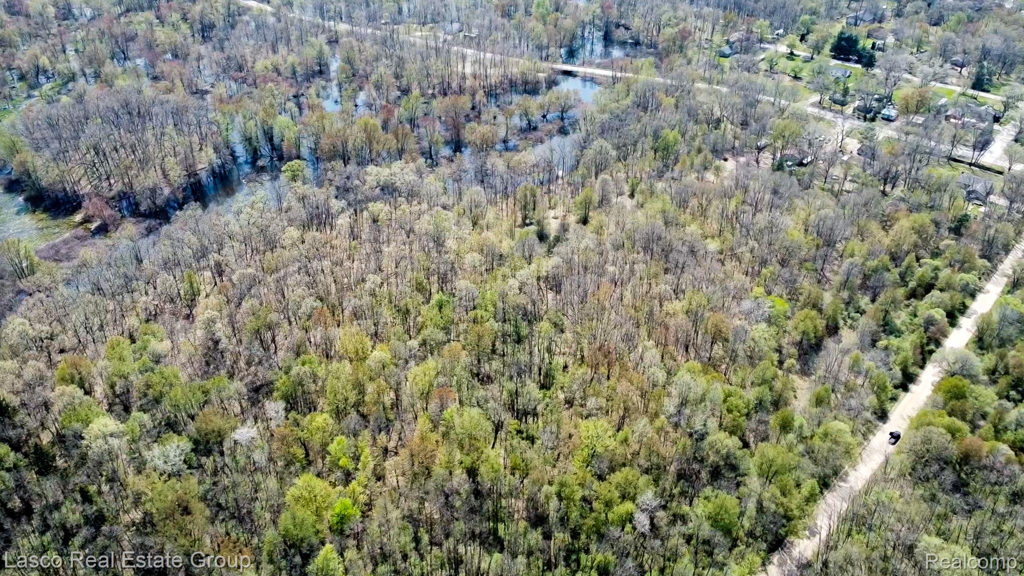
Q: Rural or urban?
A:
rural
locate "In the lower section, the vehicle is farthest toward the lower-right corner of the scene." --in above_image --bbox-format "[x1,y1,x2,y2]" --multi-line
[887,429,904,447]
